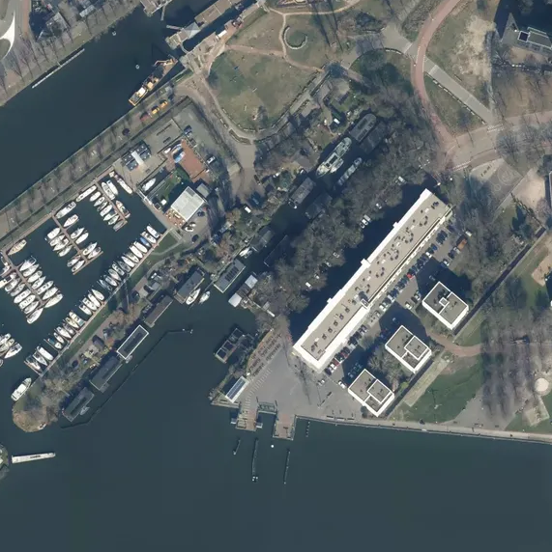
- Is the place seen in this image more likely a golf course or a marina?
marina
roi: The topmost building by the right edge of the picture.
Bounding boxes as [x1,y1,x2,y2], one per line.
[499,14,552,57]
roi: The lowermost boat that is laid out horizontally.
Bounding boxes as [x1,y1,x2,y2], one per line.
[11,451,57,464]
